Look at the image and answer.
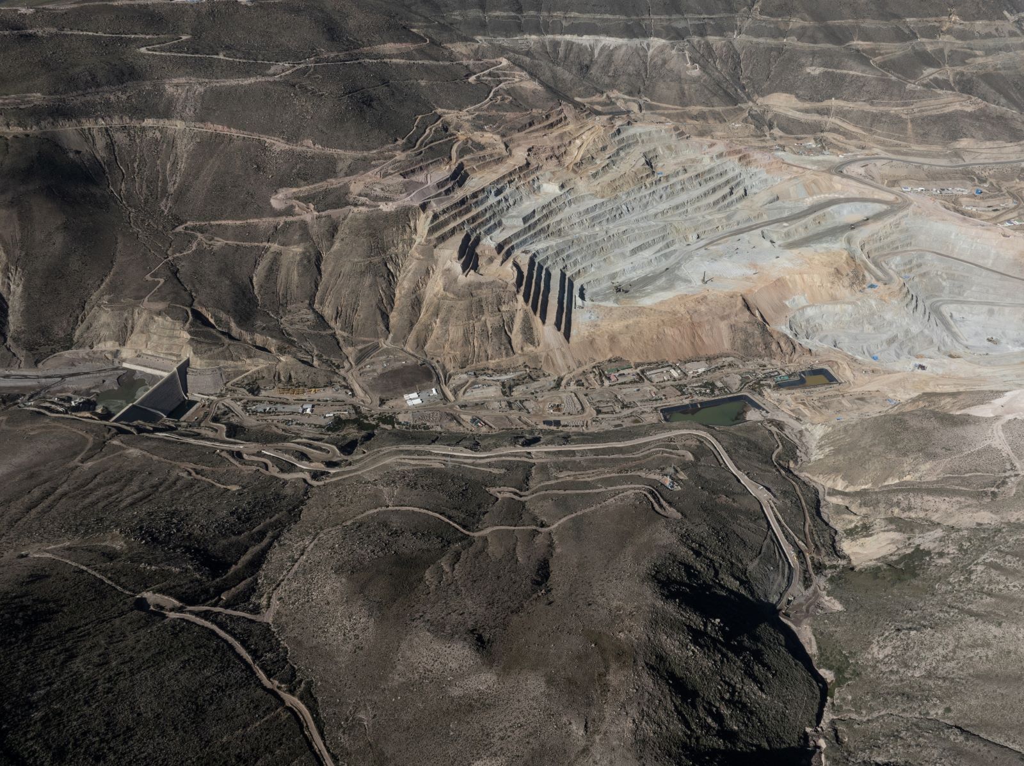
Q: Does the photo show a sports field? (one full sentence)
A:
No, there's no sports field here.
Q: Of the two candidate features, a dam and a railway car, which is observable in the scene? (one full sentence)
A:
I can see a dam in this picture.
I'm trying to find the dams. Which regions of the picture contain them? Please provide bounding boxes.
[107,356,202,426]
